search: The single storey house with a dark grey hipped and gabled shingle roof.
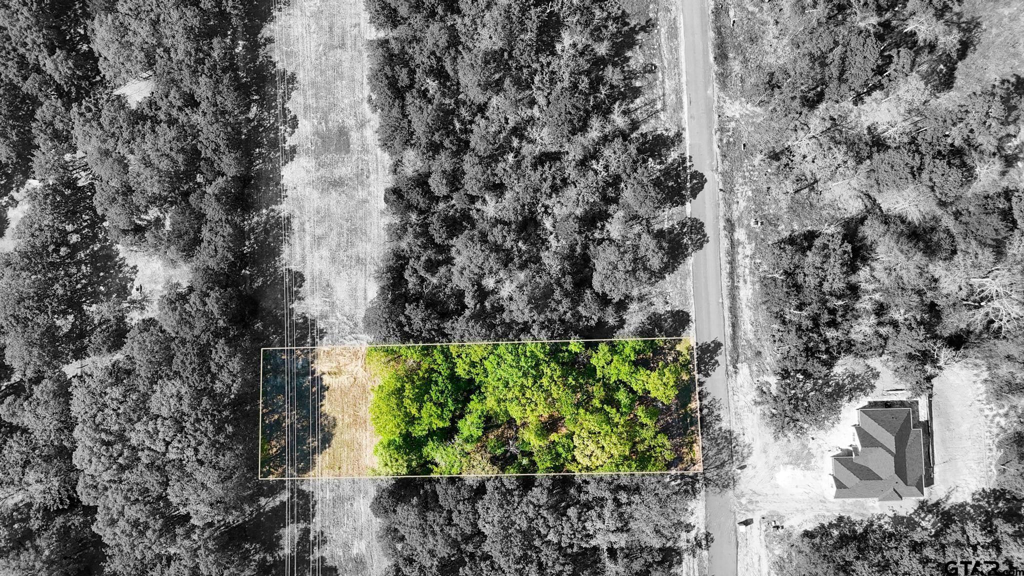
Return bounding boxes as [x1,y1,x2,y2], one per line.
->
[829,408,924,501]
